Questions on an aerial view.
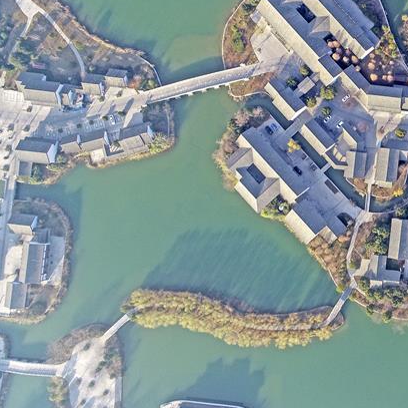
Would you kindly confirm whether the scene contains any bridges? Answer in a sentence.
Yes, a bridge can be made out from above.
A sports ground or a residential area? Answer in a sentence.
This looks like a residential area.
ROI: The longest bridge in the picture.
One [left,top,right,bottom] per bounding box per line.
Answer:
[144,55,266,105]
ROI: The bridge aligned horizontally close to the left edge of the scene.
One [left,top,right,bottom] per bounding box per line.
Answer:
[4,361,65,376]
